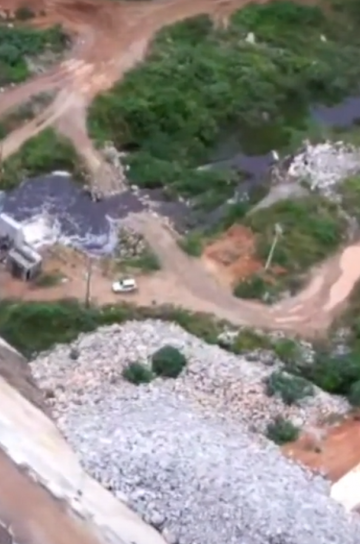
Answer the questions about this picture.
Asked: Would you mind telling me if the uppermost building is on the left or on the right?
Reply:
left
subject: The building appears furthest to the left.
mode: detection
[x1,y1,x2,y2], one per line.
[0,217,44,279]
